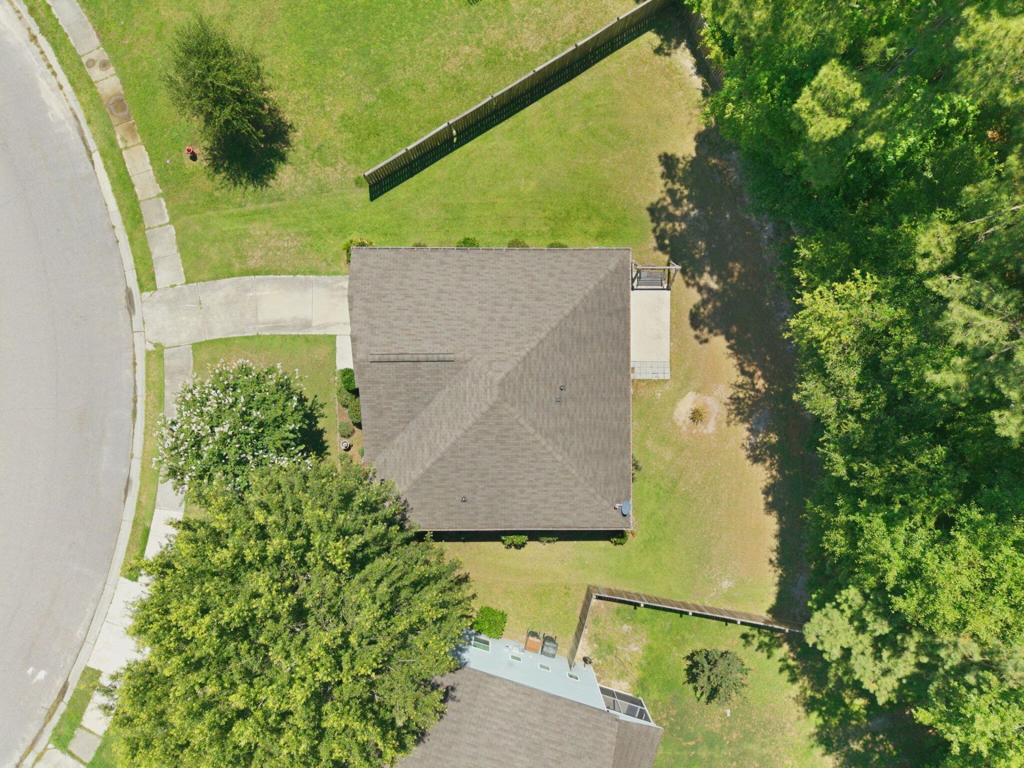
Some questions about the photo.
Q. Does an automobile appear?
No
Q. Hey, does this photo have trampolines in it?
No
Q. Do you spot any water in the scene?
No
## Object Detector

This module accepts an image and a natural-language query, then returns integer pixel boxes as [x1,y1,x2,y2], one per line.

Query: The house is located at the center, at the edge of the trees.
[348,246,634,532]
